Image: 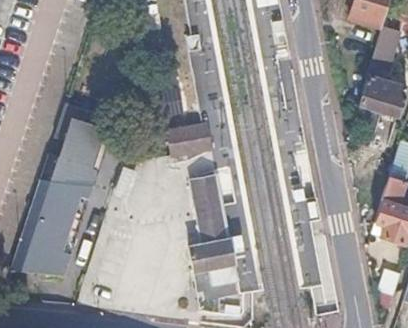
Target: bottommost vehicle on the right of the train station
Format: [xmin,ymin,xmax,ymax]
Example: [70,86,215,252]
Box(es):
[352,29,372,42]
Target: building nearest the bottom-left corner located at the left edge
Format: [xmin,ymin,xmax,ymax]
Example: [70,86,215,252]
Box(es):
[7,180,96,278]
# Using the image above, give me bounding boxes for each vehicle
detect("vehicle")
[87,214,102,238]
[0,66,18,80]
[287,0,298,7]
[13,5,34,18]
[2,41,21,54]
[15,0,38,7]
[0,92,8,103]
[147,0,160,26]
[93,286,114,300]
[0,106,6,116]
[4,28,28,42]
[0,54,20,68]
[9,17,30,30]
[76,240,92,267]
[352,29,372,42]
[75,0,95,5]
[0,79,13,91]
